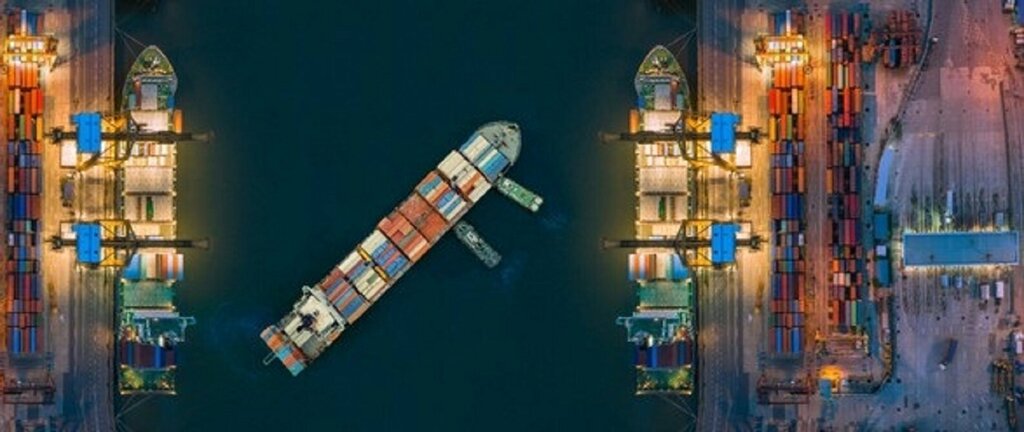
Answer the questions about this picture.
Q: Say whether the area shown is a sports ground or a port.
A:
port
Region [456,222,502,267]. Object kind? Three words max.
boat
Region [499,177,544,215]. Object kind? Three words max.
boat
